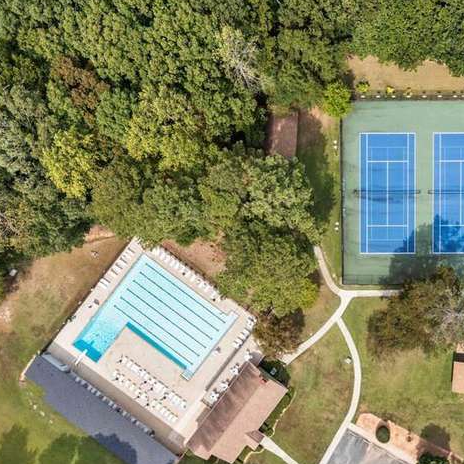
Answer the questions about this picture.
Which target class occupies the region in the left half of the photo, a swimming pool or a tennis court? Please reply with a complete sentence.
There is a swimming pool in the left half of the photo.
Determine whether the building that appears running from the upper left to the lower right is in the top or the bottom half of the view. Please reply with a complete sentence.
It is in the bottom half that the building that appears running from the upper left to the lower right appears.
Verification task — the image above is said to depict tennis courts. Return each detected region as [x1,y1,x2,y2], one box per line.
[341,99,425,284]
[424,99,464,284]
